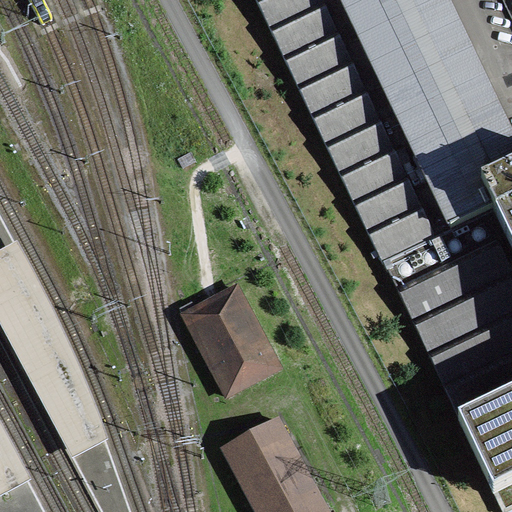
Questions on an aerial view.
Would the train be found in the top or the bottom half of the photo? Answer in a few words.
top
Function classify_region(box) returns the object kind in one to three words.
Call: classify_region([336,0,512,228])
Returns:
building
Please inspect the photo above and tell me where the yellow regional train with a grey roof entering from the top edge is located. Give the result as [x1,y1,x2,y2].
[30,0,54,26]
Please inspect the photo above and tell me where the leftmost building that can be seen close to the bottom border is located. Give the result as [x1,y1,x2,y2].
[220,416,332,512]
